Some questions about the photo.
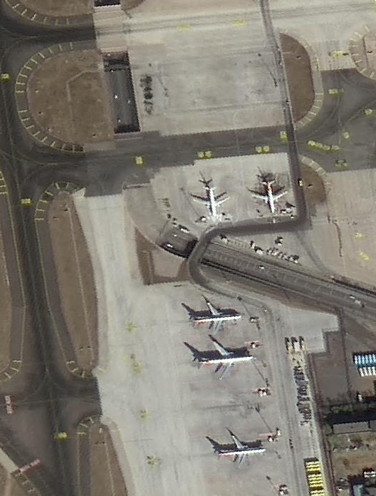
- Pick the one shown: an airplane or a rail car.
airplane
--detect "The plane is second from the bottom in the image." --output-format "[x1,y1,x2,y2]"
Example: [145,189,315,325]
[199,343,254,380]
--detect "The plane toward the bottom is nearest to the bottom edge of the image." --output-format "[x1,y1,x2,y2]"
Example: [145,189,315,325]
[215,434,265,470]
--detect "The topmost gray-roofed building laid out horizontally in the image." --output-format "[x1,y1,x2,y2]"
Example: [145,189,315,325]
[333,421,369,433]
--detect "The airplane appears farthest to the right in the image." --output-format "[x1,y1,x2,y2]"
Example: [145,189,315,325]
[251,180,289,214]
